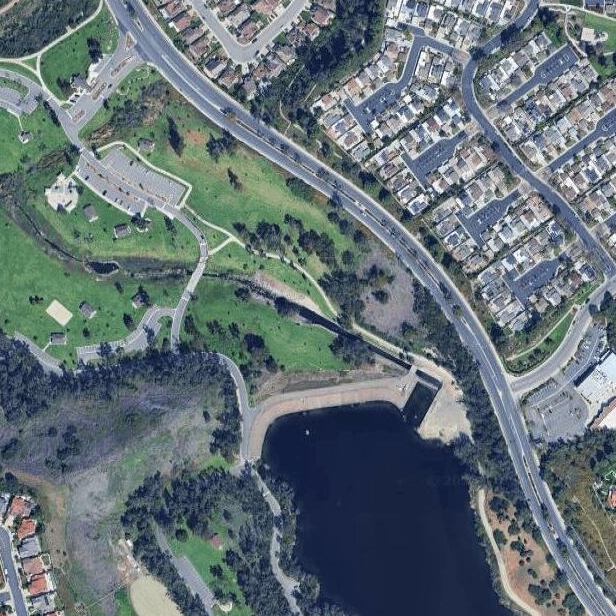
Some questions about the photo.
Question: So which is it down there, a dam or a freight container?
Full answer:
This aerial view contains a dam.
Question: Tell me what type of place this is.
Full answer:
This image shows a residential area.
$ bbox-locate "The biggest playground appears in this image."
[45,174,78,214]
